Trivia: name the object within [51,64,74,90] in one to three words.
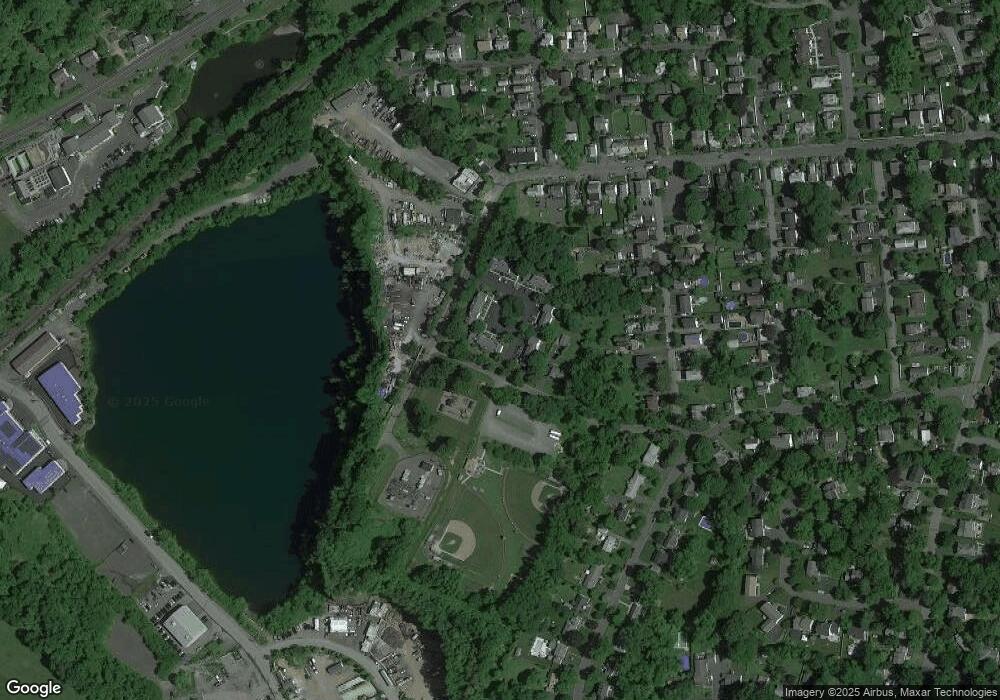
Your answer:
house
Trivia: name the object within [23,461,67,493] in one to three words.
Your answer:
building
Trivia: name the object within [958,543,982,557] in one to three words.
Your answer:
house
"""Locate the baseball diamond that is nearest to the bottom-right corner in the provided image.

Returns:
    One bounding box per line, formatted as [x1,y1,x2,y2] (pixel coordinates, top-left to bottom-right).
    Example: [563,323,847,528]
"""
[505,455,565,540]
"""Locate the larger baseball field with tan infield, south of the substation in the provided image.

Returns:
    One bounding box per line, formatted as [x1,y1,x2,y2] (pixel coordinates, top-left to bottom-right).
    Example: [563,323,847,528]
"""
[434,488,505,580]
